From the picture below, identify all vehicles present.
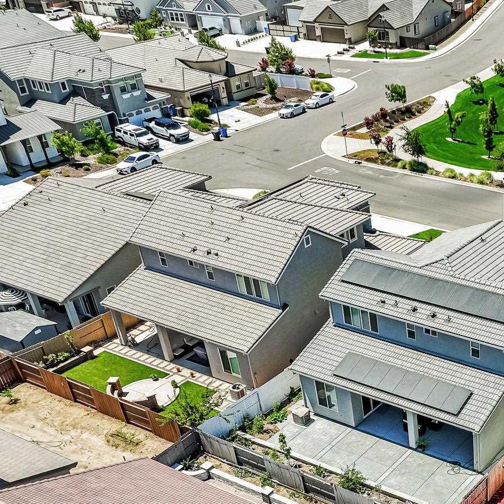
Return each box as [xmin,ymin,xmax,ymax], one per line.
[286,57,319,72]
[146,114,193,142]
[114,120,161,149]
[304,88,337,108]
[110,149,161,174]
[44,4,71,19]
[272,97,310,118]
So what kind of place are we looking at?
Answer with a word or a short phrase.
residential area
